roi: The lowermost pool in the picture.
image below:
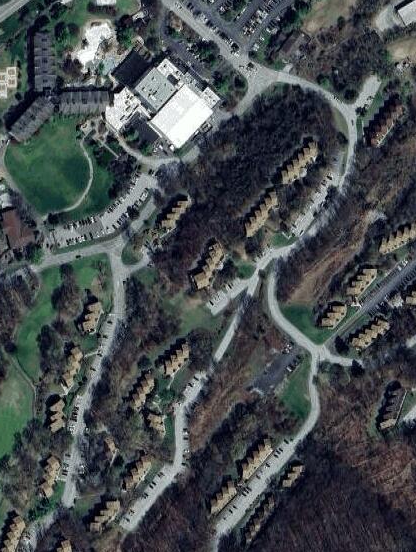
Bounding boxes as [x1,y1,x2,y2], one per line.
[67,18,129,86]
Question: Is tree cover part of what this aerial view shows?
Yes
